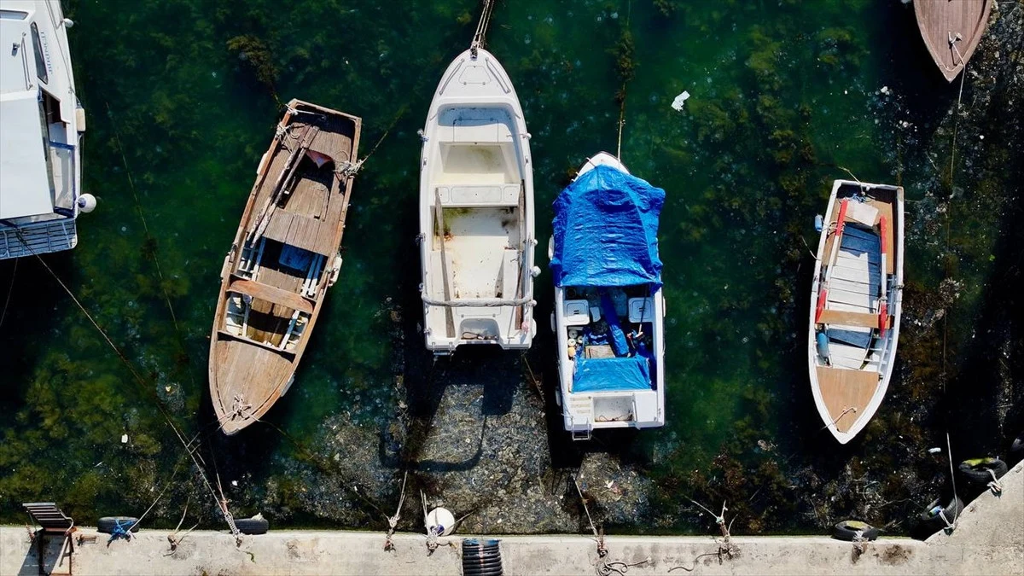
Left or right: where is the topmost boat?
right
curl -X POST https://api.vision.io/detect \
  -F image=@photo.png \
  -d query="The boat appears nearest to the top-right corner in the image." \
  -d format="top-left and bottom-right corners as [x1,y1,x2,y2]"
[912,0,992,85]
